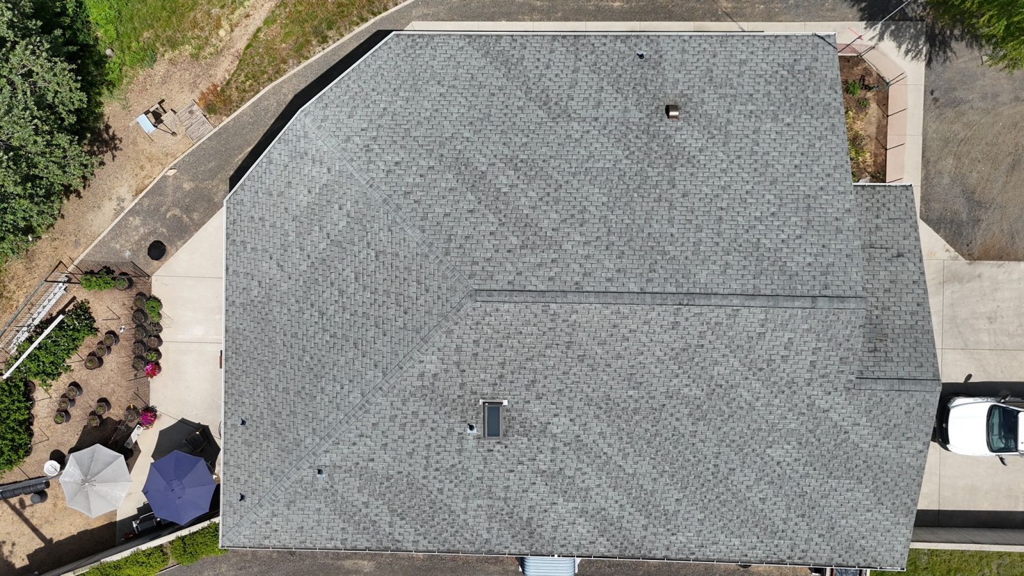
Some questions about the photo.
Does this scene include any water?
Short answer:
No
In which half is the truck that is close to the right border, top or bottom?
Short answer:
bottom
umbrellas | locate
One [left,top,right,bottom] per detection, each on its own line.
[60,444,137,517]
[143,450,217,525]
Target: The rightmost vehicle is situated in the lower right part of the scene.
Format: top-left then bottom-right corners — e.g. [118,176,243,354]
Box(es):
[934,388,1024,467]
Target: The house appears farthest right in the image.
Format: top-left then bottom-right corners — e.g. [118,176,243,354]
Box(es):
[216,29,943,573]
